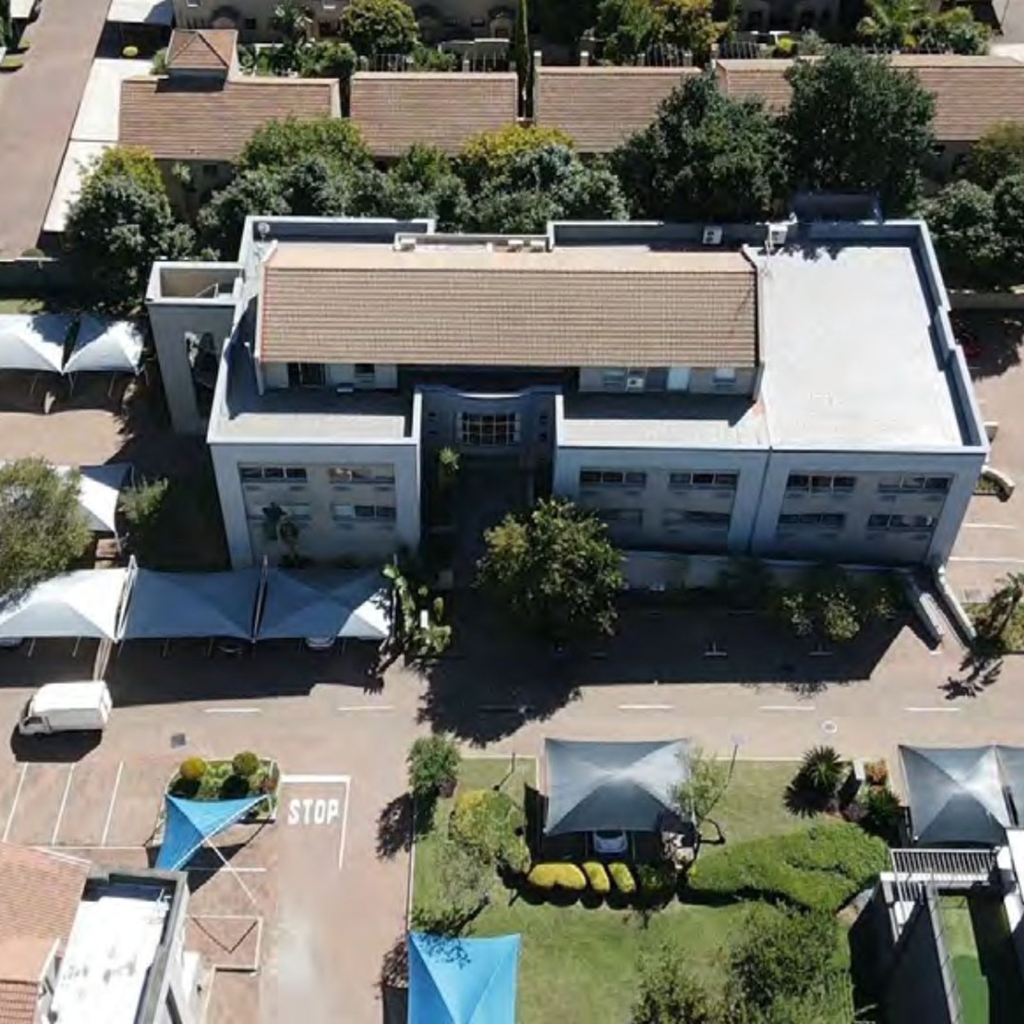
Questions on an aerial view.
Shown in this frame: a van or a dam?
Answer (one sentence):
Of the two, only a van appears.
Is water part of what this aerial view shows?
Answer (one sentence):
No, water can't be seen anywhere here.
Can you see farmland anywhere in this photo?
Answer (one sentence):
No, the scene doesn't show any farmland.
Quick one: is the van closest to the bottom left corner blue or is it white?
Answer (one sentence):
In this view, the van closest to the bottom left corner is white.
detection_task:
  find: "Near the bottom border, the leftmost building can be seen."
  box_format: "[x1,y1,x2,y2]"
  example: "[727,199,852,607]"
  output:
[0,842,93,1024]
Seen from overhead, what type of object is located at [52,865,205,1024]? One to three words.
building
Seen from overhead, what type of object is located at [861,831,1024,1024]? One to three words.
building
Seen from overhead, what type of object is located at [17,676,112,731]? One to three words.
van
